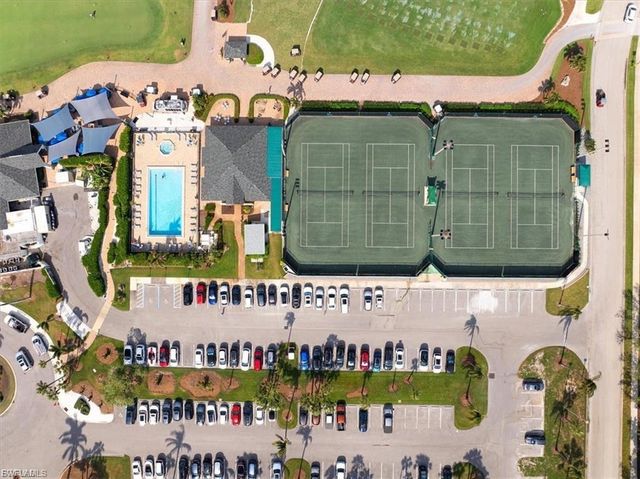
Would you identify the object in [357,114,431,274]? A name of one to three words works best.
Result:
tennis court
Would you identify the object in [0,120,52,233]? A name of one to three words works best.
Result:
building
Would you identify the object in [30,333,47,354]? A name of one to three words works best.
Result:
car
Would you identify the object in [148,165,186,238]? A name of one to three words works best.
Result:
swimming pool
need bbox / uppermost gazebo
[224,39,249,60]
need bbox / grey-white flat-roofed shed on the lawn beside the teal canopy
[244,224,265,255]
